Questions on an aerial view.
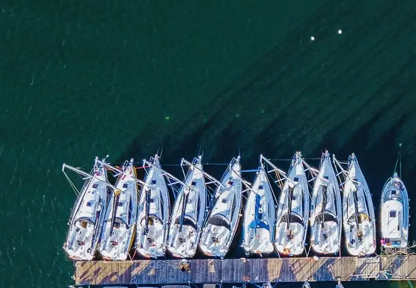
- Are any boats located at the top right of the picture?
No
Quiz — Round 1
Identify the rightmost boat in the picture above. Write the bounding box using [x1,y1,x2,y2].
[380,158,413,254]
